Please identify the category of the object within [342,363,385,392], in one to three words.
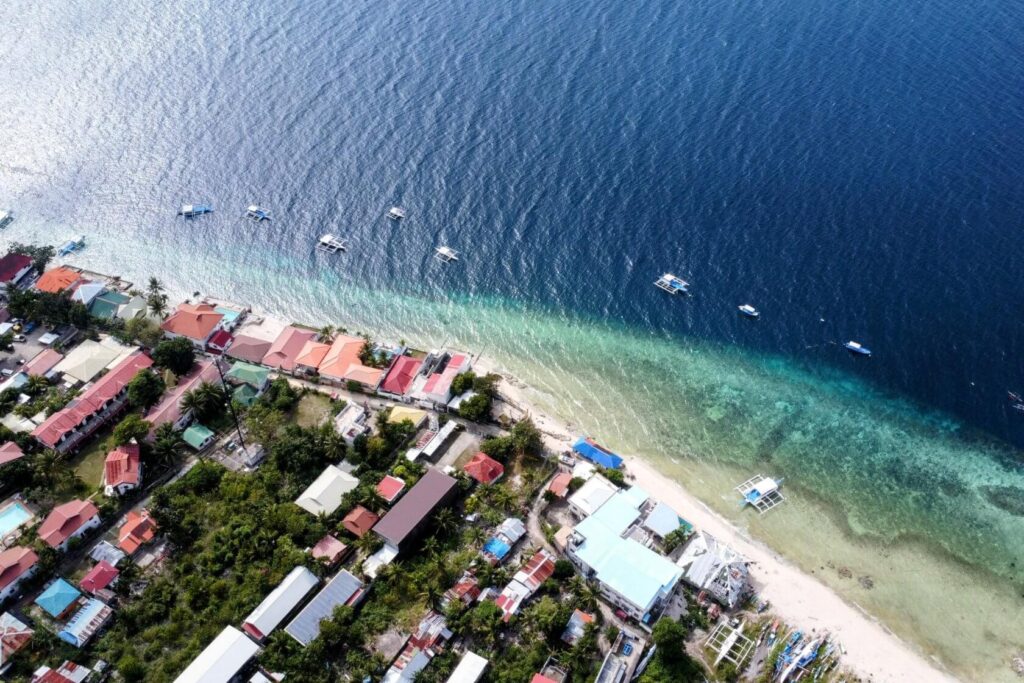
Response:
house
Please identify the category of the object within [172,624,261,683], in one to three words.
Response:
building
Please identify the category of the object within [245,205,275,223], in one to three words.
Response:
boat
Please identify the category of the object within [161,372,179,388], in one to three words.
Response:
gazebo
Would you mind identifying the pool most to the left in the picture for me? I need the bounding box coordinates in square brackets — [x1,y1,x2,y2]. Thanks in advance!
[0,495,43,548]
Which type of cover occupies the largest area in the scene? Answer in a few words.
water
